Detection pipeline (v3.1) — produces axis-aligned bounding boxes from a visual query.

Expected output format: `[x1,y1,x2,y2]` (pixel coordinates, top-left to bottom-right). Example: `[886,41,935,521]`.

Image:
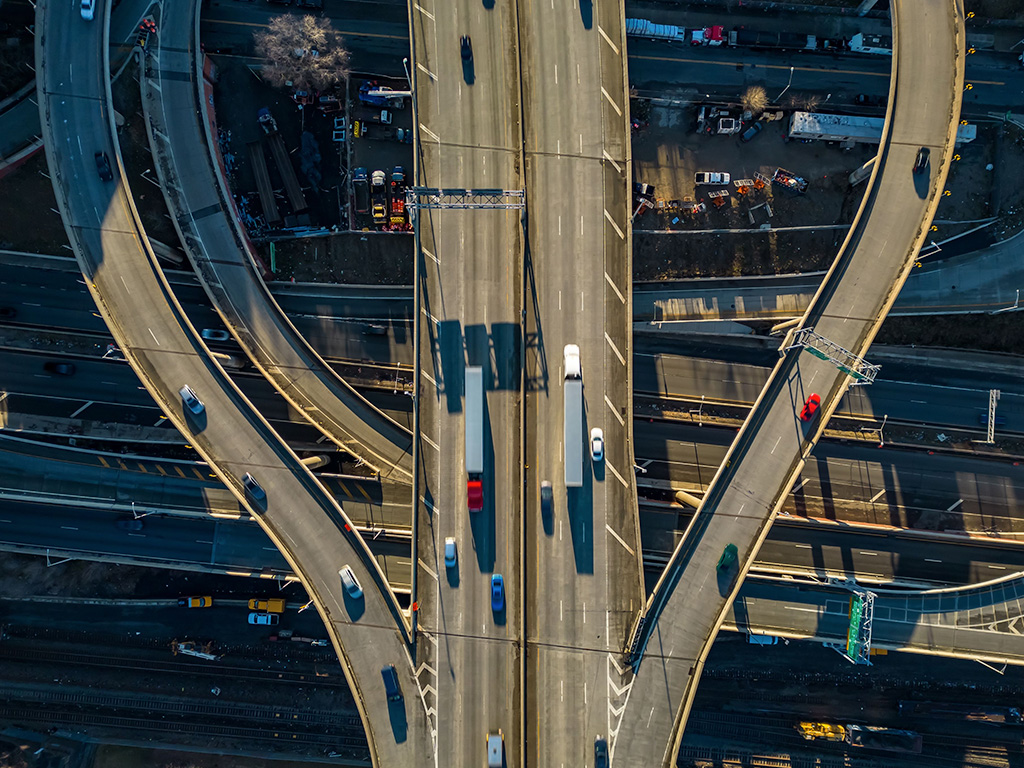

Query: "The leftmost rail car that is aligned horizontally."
[794,721,844,740]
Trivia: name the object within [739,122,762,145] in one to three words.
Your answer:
car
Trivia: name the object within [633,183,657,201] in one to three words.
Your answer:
vehicle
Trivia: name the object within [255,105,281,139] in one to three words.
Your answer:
truck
